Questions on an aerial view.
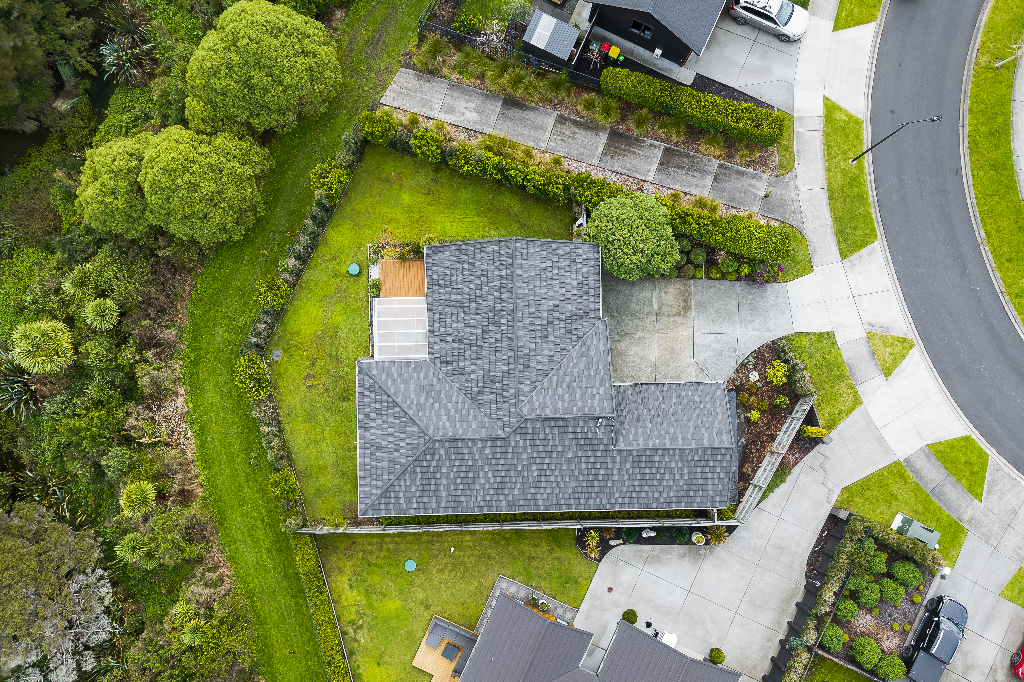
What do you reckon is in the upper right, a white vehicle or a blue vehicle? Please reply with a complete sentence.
It is a white vehicle that can be seen in the upper right.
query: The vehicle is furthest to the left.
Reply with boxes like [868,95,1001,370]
[727,0,812,43]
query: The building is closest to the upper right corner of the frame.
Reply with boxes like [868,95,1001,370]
[577,0,728,67]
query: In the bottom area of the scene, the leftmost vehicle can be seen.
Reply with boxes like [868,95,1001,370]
[902,593,971,682]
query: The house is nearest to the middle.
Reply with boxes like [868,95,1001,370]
[353,238,735,517]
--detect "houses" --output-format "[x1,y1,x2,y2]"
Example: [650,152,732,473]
[577,0,728,67]
[353,238,735,517]
[457,590,744,682]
